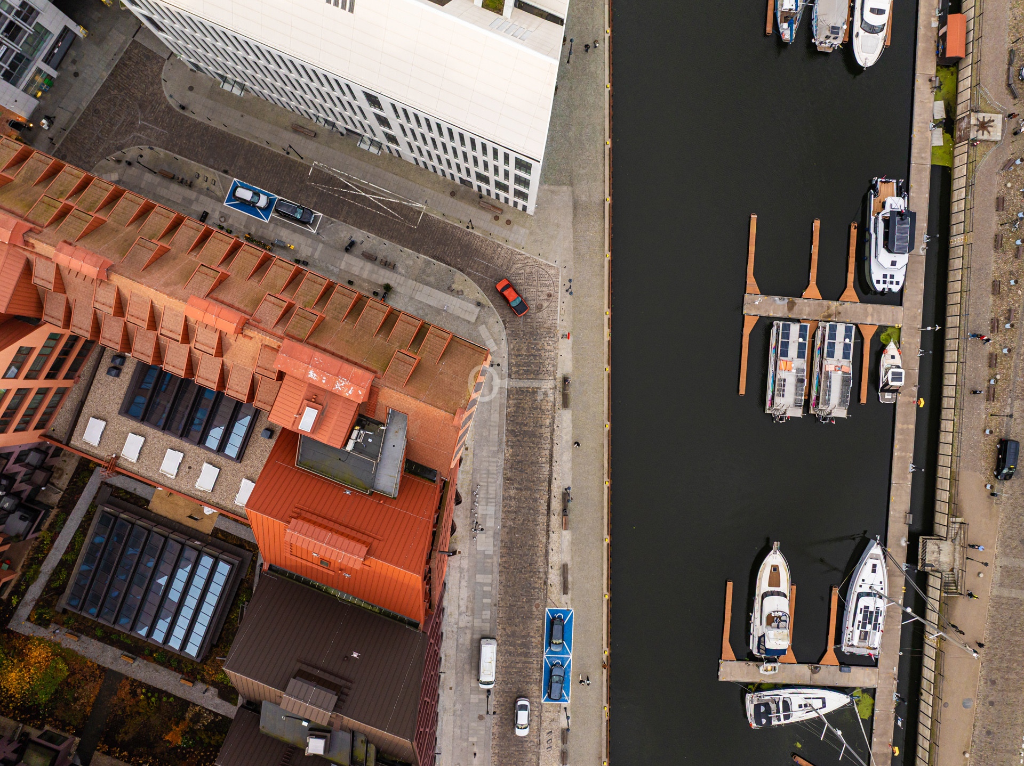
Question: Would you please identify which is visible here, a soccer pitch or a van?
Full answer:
It is a van that can be seen here.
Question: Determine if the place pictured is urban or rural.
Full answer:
The area is urban.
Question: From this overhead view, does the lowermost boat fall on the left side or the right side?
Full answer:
The lowermost boat appears in the right half of the scene.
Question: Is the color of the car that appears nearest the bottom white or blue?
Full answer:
In this view, the car that appears nearest the bottom is white.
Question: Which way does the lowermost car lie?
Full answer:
In this picture, the lowermost car lies from top to bottom.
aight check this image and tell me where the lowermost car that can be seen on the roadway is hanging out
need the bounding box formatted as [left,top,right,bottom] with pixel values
[511,698,532,741]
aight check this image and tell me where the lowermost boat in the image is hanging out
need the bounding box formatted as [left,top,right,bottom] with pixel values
[732,682,880,766]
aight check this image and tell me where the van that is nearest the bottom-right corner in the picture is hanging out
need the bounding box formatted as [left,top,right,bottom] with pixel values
[991,433,1022,480]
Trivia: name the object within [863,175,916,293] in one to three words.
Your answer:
boat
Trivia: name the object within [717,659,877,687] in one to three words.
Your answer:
pier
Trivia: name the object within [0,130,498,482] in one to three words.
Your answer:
building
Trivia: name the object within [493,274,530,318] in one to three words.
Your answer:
car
